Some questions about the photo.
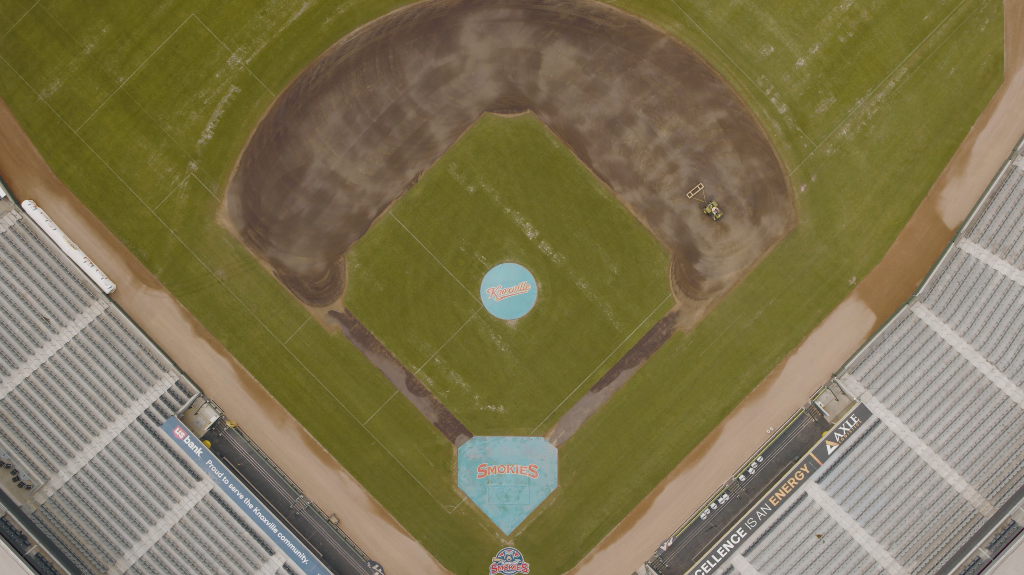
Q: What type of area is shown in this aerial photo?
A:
sports ground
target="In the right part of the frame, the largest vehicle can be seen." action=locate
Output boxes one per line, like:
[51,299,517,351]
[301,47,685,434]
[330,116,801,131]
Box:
[702,199,724,222]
